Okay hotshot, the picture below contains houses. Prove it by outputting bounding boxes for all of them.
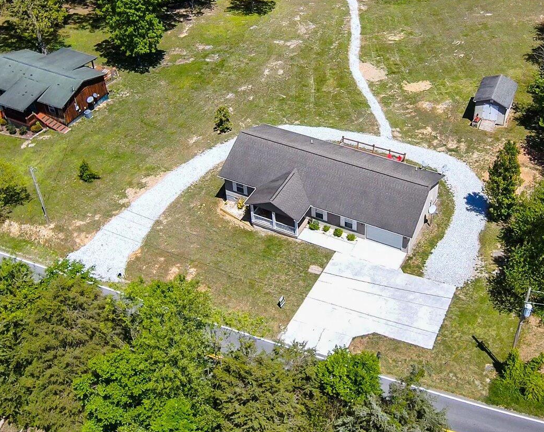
[217,124,444,252]
[0,49,108,132]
